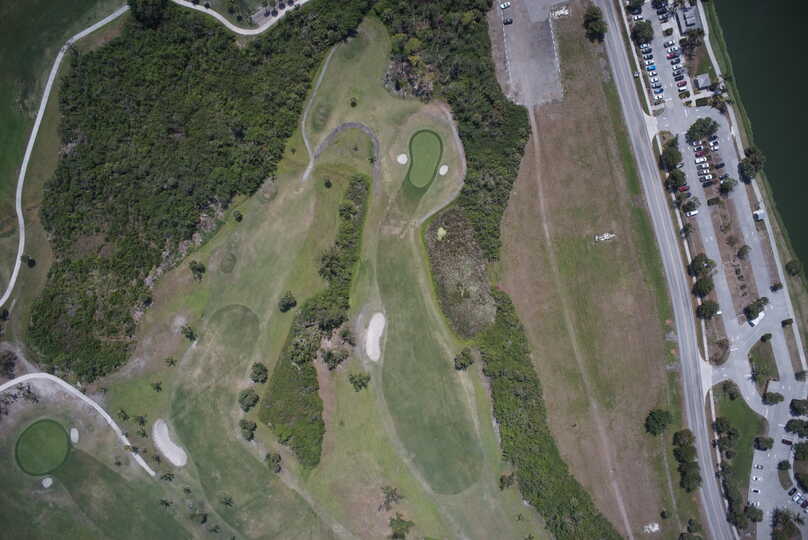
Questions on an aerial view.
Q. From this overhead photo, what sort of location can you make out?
golf course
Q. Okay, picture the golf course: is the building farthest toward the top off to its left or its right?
to its right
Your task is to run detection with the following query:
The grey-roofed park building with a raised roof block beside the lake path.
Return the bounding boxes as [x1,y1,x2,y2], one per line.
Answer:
[675,6,703,36]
